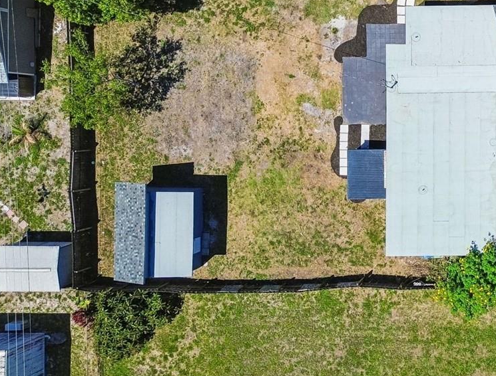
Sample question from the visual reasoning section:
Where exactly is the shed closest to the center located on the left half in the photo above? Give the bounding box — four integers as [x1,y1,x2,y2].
[113,180,203,285]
